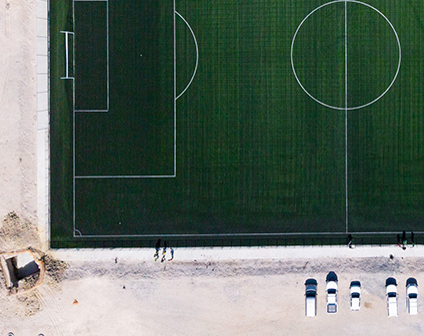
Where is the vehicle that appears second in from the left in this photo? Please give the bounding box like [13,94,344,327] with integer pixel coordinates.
[325,277,338,313]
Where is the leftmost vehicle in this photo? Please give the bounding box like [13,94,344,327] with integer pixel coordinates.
[304,285,318,316]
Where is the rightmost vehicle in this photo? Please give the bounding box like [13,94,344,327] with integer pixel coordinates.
[404,284,419,315]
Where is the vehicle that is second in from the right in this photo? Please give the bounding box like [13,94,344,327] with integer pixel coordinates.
[384,283,397,317]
